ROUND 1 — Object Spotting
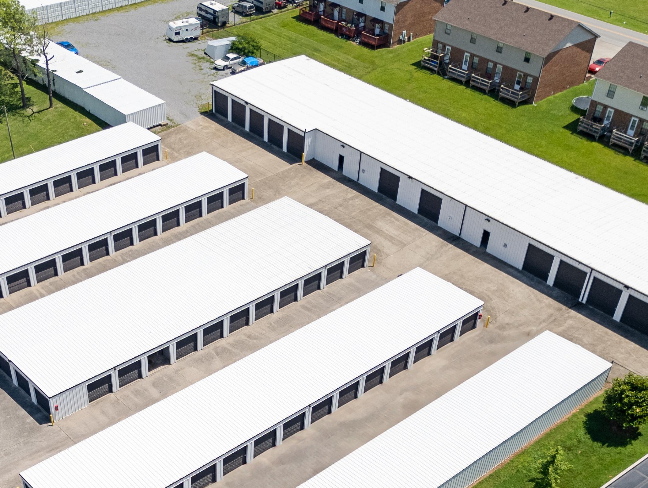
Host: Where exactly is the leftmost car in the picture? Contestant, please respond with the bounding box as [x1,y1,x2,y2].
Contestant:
[57,35,85,53]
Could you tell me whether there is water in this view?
No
